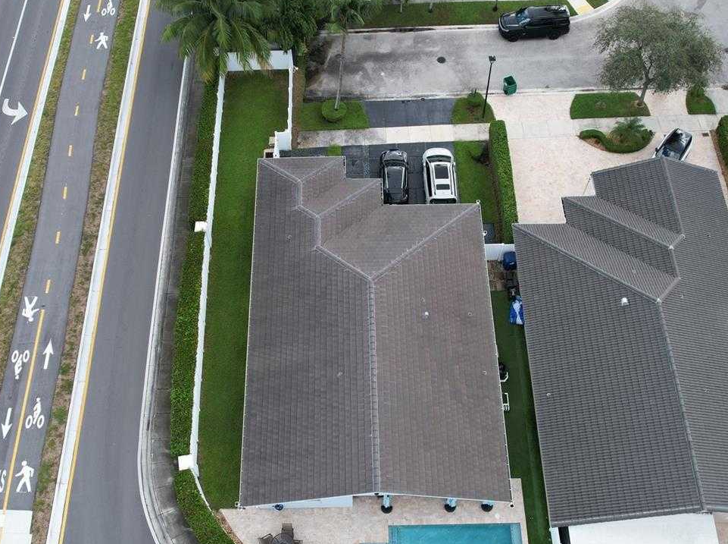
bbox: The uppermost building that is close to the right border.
[511,159,728,526]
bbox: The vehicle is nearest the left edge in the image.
[379,149,412,204]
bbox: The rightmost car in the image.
[656,127,698,165]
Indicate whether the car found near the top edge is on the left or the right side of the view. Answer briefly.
right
